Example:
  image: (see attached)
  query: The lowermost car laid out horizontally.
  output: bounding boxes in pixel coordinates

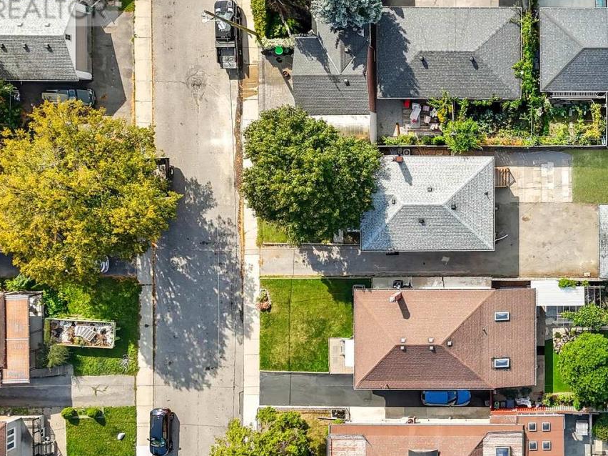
[422,390,472,412]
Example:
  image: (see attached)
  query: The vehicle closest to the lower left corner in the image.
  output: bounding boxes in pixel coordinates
[148,405,175,456]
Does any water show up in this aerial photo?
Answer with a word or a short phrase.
No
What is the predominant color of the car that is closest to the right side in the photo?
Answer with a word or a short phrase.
blue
